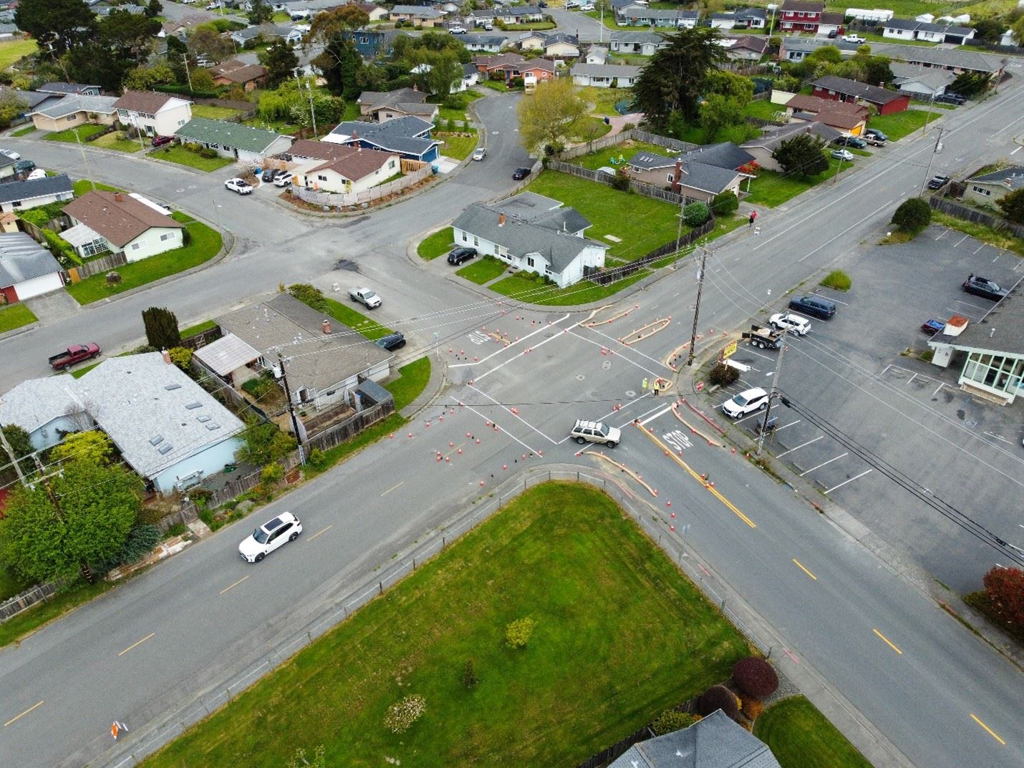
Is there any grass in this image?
Yes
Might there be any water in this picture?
No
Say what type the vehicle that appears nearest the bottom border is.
car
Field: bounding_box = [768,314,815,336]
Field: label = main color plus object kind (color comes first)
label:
white car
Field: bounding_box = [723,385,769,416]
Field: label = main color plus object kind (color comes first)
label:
white car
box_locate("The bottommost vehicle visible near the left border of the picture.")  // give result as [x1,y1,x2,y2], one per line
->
[40,341,104,370]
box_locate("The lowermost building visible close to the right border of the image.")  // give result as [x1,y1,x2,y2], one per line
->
[926,274,1024,407]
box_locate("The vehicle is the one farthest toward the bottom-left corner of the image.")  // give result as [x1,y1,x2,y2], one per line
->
[235,513,301,564]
